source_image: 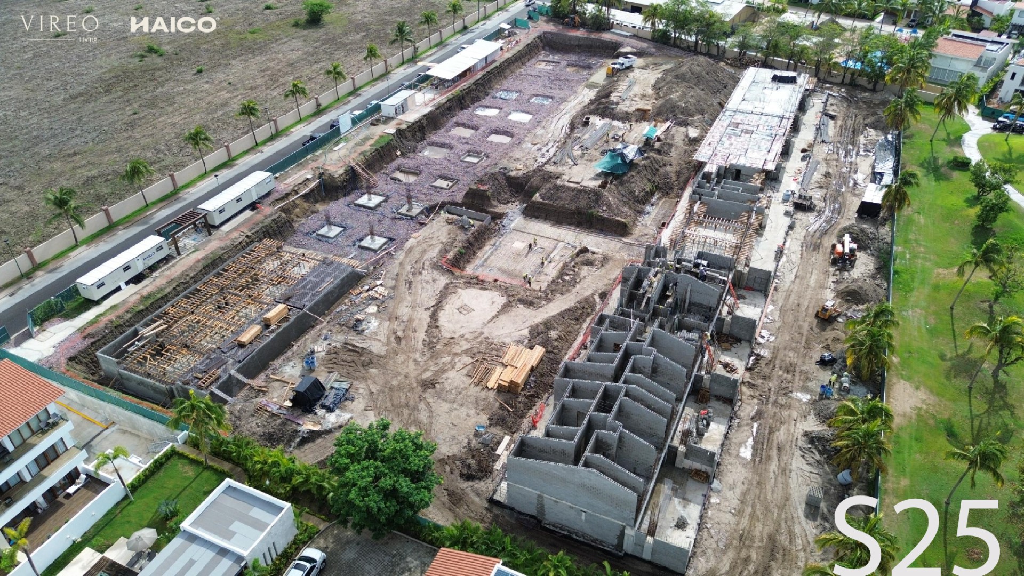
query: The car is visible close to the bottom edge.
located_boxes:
[275,550,330,576]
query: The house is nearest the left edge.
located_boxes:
[0,350,132,576]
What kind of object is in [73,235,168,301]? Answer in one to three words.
trailer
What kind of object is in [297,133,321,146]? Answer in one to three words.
vehicle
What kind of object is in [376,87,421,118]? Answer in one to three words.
building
